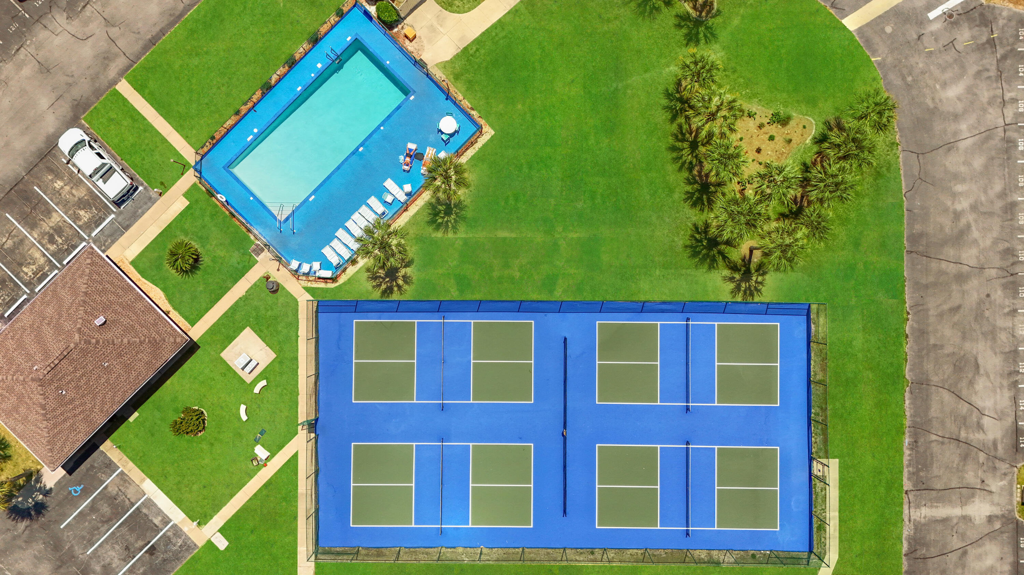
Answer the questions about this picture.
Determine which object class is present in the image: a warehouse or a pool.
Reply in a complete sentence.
There is a pool in the scene.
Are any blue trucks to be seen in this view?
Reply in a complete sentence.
No, the scene contains no blue truck.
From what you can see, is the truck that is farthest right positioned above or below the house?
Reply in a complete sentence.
It's above the house that the truck that is farthest right shows up.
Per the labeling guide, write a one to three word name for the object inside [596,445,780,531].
sports court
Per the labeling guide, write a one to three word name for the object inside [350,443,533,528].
sports court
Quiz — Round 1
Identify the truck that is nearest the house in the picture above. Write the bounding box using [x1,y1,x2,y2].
[60,127,136,202]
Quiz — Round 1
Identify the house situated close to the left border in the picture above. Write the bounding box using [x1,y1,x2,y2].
[0,240,194,474]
